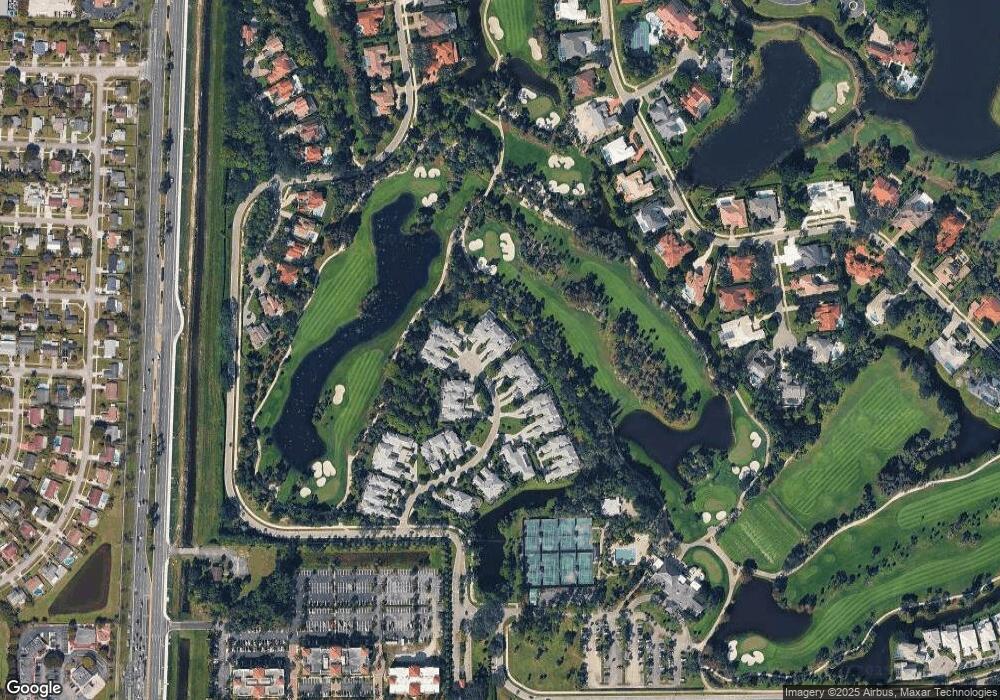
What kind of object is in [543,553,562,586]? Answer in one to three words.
tennis court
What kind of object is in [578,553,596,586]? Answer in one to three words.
tennis court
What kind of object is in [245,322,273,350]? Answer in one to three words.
house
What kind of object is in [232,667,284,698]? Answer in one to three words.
building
